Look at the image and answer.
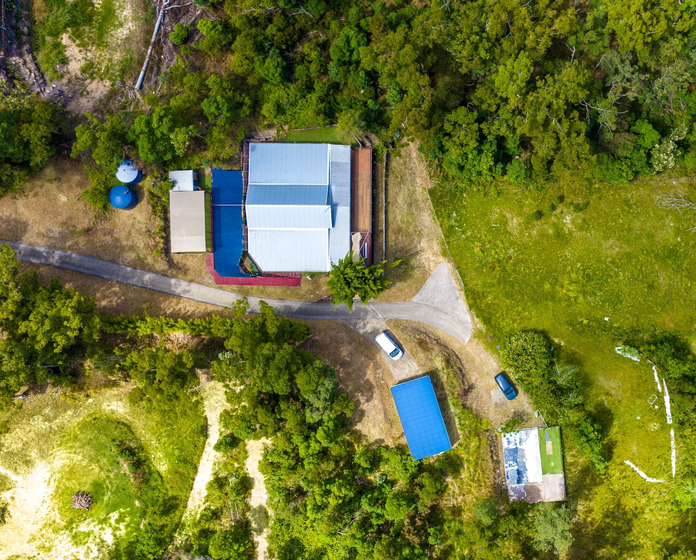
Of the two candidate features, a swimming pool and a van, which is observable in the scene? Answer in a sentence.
The one in the frame is a van.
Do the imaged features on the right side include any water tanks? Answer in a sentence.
No, I can find no water tank on the right side.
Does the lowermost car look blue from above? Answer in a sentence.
Yes, the lowermost car is indeed blue.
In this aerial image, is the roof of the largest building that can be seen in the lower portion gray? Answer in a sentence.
No, the color of the roof of the largest building that can be seen in the lower portion is blue.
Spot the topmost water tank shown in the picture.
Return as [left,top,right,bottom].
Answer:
[116,160,147,187]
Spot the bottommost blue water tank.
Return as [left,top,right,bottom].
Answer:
[109,186,140,210]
